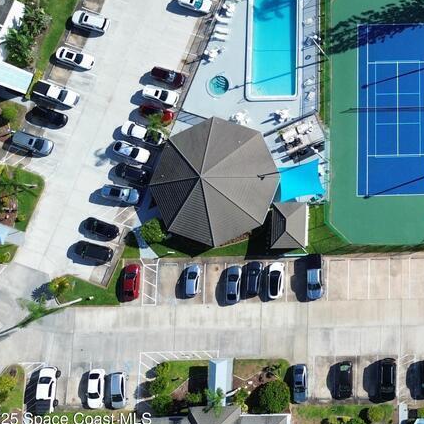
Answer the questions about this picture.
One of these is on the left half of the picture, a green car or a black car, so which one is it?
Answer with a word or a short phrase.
black car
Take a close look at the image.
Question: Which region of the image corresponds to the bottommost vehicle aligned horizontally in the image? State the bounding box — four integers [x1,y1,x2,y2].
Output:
[74,240,116,262]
